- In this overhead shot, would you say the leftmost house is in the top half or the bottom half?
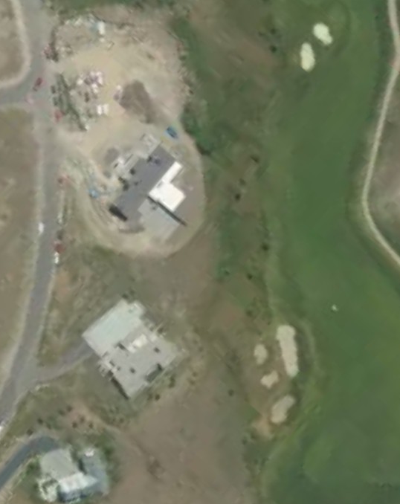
bottom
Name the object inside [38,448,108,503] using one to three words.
house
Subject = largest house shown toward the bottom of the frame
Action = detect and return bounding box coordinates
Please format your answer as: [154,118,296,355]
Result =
[81,298,180,399]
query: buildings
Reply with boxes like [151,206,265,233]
[81,298,180,399]
[38,448,108,503]
[112,135,186,239]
